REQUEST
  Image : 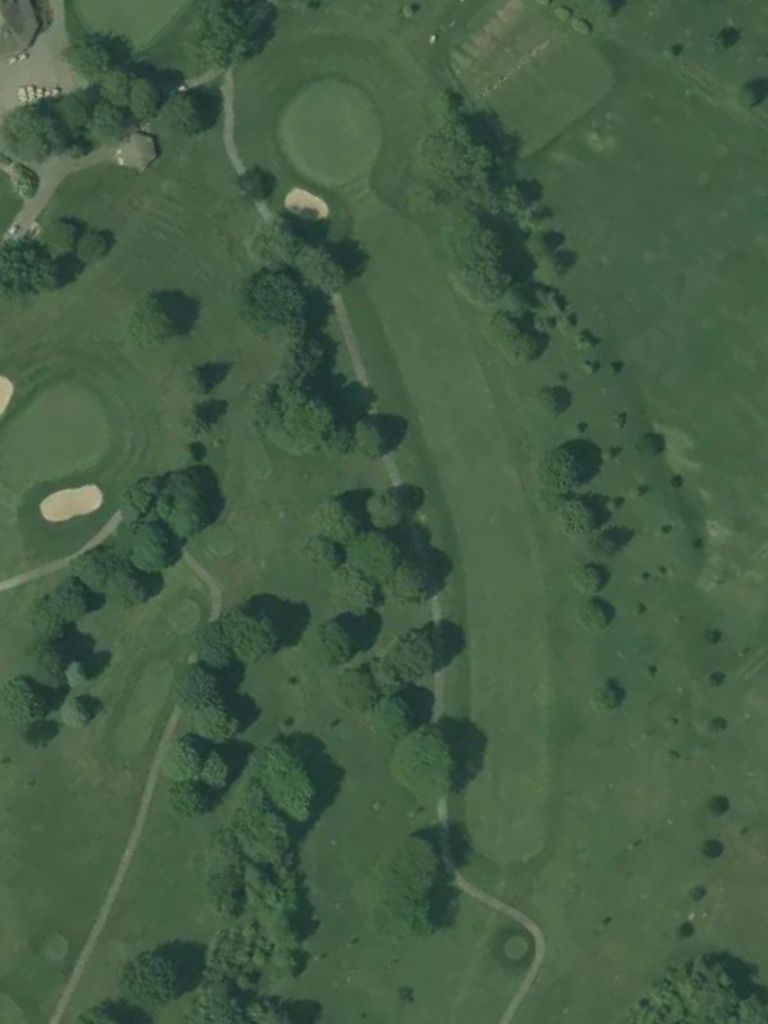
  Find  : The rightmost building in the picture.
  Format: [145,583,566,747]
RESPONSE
[124,131,156,171]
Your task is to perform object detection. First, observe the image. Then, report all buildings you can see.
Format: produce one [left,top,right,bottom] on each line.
[0,0,38,54]
[124,131,156,171]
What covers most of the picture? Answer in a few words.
grass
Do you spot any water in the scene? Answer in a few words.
No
